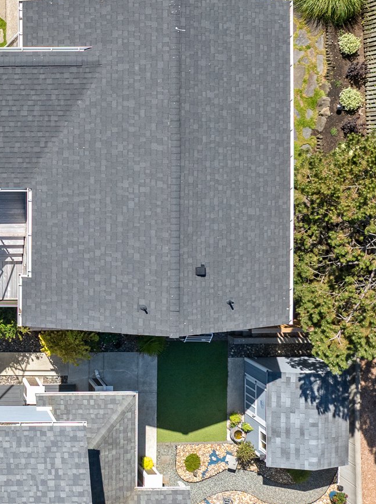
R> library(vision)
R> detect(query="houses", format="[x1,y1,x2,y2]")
[0,368,192,504]
[0,0,297,338]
